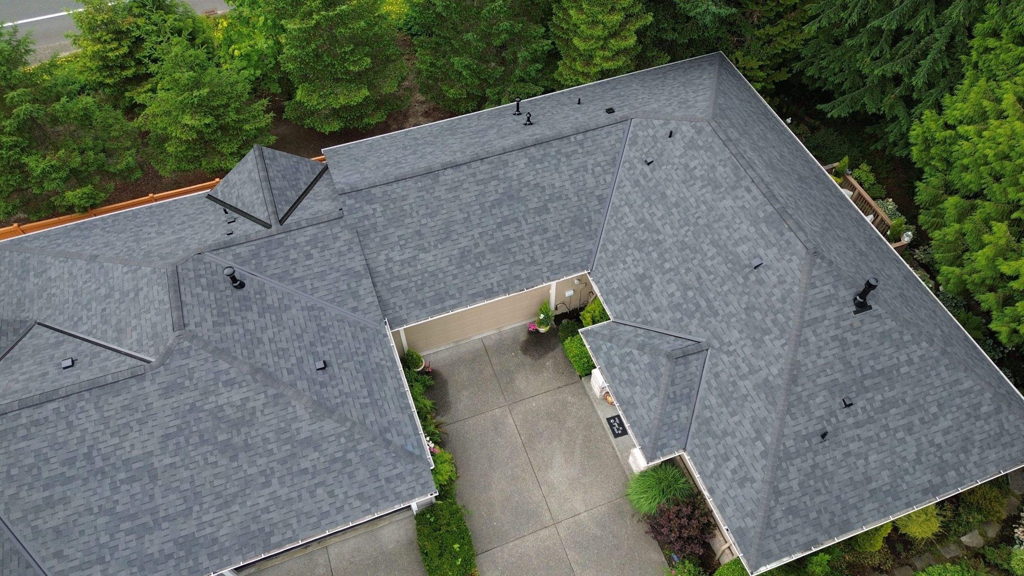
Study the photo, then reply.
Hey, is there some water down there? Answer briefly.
No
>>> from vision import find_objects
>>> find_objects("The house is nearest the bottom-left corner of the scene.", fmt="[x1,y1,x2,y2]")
[0,143,441,576]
